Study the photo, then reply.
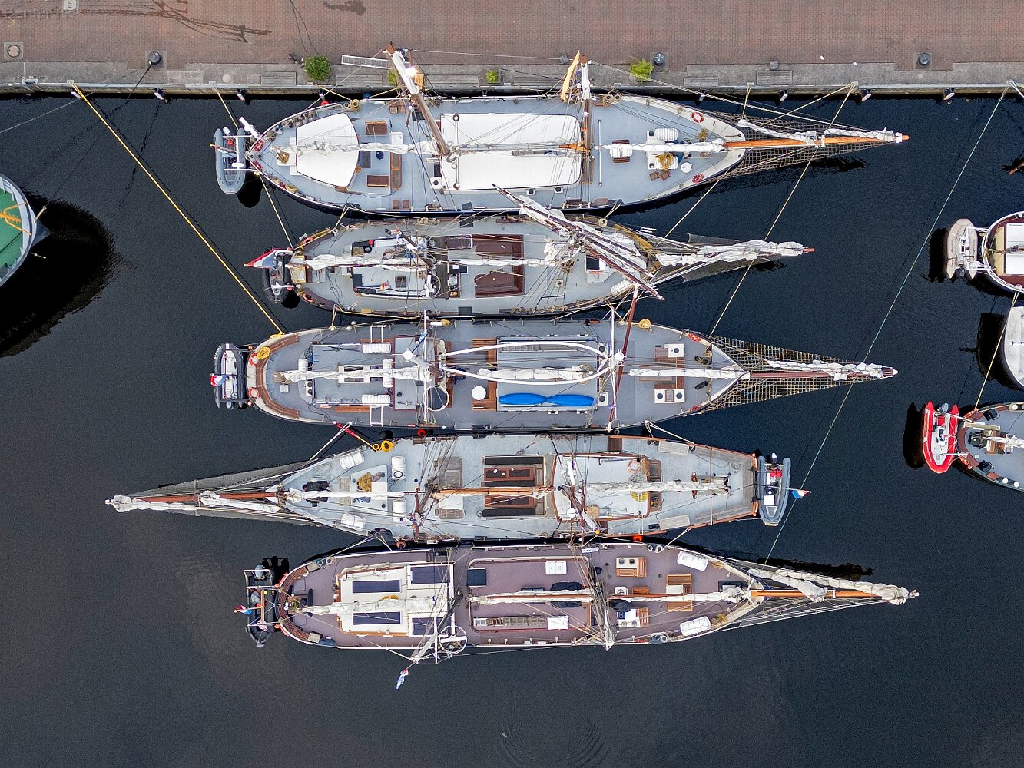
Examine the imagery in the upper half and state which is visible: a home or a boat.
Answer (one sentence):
Looking in the upper half, you will find a boat.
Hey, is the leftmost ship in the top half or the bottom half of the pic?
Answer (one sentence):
The leftmost ship is in the top half of the image.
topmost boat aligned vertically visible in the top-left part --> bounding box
[214,126,248,193]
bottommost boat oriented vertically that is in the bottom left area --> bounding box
[246,573,275,644]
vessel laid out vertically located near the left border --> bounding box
[0,173,50,292]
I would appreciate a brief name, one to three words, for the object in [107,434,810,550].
ship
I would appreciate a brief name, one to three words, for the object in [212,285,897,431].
ship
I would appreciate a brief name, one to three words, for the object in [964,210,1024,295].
boat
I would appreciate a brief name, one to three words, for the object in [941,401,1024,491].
boat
